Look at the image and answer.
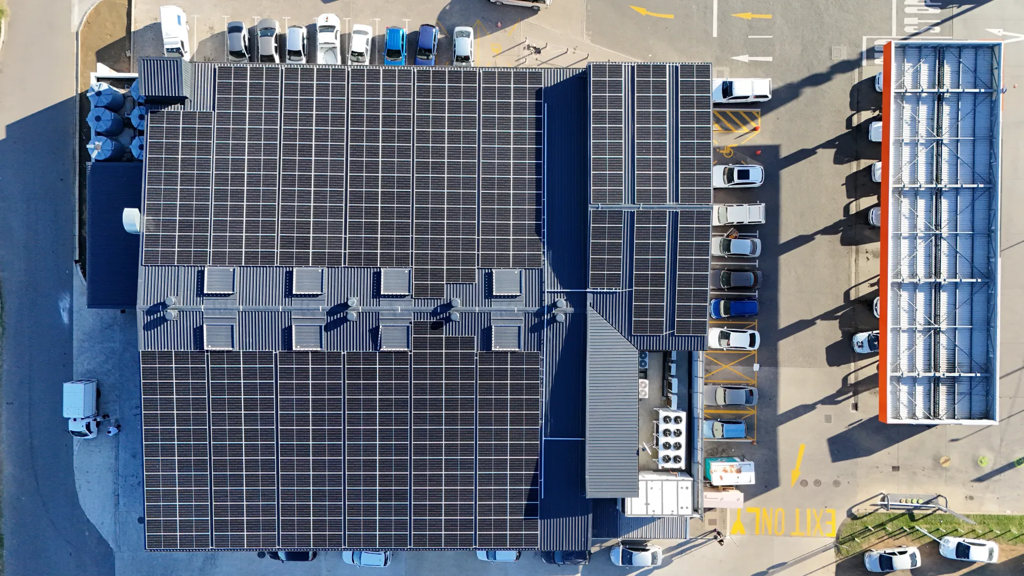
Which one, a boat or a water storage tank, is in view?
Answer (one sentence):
It is a water storage tank that can be seen here.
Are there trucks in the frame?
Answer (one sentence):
Yes, a truck appears in the view.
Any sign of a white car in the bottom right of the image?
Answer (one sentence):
Yes, the scene does show a white car in the bottom right of the image.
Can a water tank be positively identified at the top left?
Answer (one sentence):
Yes, there is a water tank at the top left.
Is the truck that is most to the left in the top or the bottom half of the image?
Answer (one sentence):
It is in the bottom half that the truck that is most to the left appears.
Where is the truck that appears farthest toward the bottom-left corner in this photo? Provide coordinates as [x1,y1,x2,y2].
[63,378,107,439]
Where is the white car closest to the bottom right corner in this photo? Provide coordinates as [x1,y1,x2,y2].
[936,533,999,564]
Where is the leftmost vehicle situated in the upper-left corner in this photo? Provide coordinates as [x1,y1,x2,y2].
[160,3,197,63]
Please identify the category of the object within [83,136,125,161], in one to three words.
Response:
water tank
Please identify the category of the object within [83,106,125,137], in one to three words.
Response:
water tank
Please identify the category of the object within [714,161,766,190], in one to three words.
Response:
car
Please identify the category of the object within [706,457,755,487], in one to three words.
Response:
trailer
